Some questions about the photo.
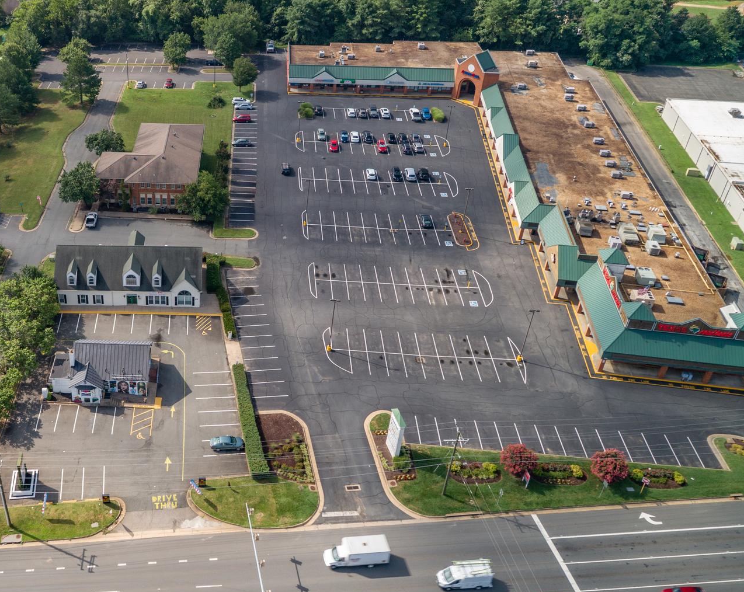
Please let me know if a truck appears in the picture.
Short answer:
Yes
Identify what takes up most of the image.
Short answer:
paved ground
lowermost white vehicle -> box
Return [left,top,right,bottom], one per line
[440,557,498,590]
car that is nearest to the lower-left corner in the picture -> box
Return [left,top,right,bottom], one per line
[210,434,245,451]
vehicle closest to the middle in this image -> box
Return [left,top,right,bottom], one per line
[420,214,433,229]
